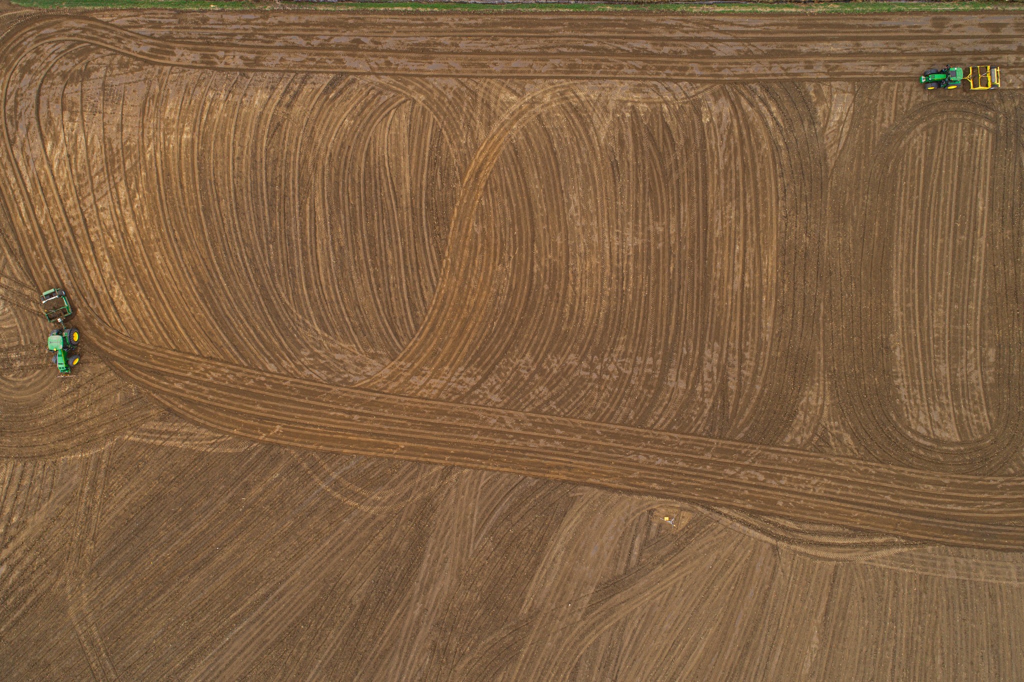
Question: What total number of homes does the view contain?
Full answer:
The photo contains no homes.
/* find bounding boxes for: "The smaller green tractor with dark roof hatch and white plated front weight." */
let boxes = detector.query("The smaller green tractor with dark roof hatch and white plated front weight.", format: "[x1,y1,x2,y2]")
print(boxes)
[919,66,963,91]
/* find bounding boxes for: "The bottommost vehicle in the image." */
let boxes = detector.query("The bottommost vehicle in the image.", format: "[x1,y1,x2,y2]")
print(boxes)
[48,328,82,378]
